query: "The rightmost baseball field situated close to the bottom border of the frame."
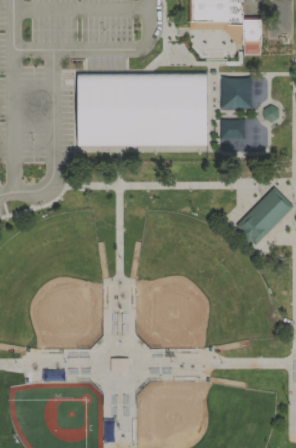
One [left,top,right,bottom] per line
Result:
[138,378,278,448]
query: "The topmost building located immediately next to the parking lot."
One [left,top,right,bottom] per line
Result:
[190,0,262,56]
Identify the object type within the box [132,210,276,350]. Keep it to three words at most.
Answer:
baseball field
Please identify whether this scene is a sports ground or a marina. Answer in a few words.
sports ground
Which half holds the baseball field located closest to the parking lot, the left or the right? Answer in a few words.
left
